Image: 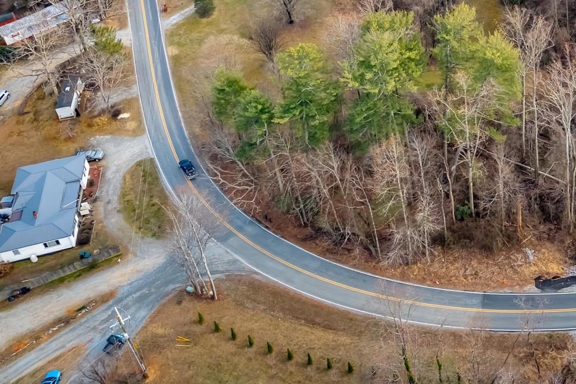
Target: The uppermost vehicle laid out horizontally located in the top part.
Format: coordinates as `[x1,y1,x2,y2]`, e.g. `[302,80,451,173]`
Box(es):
[71,145,111,160]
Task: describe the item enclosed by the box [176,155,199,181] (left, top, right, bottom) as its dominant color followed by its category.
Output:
blue truck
